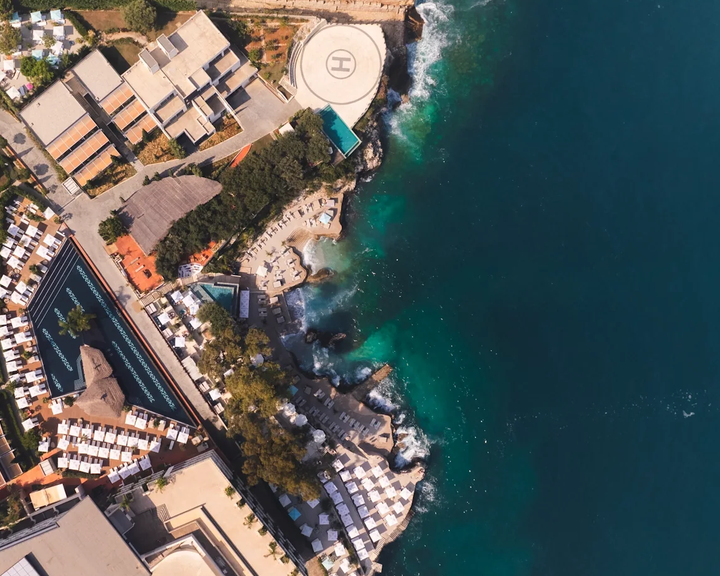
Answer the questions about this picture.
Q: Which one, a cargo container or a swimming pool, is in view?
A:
swimming pool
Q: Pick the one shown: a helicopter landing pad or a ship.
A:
helicopter landing pad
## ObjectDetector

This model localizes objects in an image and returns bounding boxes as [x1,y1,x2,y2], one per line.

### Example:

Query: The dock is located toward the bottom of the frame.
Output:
[342,372,380,402]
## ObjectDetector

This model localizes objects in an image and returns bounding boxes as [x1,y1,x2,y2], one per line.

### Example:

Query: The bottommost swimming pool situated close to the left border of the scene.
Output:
[28,236,198,427]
